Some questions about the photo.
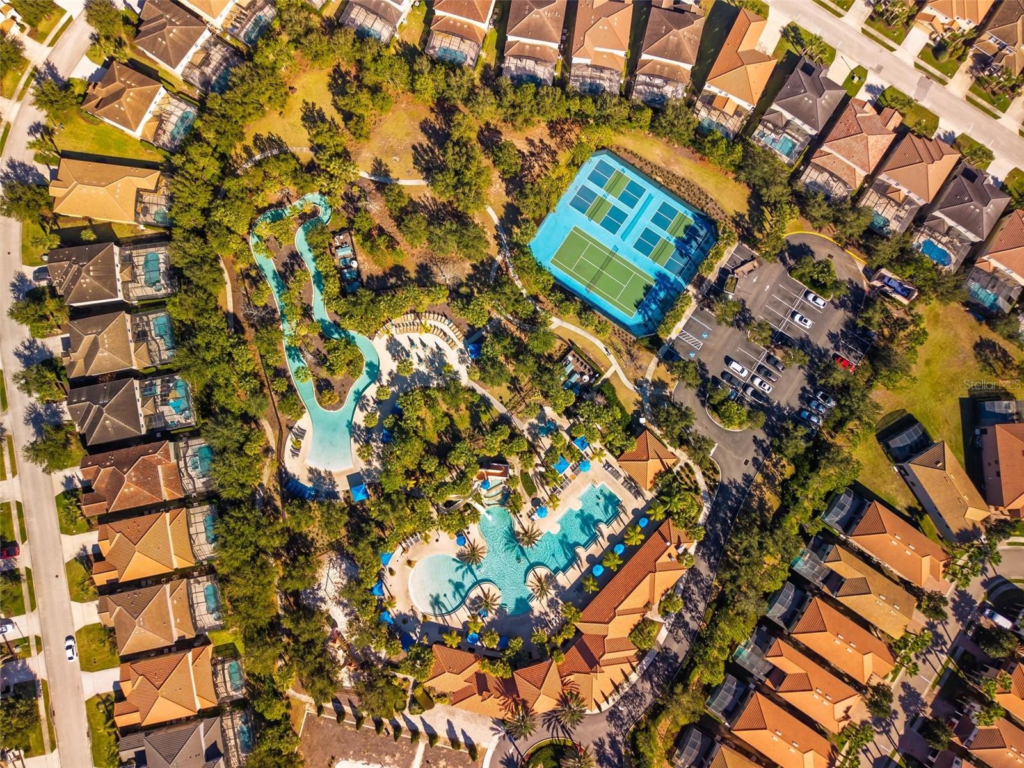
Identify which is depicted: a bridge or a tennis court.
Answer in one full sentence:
The one in the frame is a tennis court.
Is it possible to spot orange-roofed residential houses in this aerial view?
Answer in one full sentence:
Yes, an orange-roofed residential house can be made out from above.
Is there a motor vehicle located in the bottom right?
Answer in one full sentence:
Yes, I can see a motor vehicle in the bottom right.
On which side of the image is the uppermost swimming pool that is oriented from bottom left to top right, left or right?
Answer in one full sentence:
You can find the uppermost swimming pool that is oriented from bottom left to top right on the left side of the picture.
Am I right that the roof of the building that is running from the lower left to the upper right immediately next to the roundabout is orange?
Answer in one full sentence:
Yes, orange is the color of the roof of the building that is running from the lower left to the upper right immediately next to the roundabout.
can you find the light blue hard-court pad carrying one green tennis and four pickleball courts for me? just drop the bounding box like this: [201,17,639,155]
[530,154,716,335]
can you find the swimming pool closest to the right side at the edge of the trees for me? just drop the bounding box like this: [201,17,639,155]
[969,283,999,307]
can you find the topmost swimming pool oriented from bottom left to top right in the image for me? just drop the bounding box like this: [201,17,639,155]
[246,15,271,41]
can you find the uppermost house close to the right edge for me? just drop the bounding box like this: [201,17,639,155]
[911,0,988,47]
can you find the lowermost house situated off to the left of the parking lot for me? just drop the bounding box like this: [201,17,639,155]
[118,715,234,768]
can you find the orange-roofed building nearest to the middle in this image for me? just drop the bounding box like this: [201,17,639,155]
[617,430,679,492]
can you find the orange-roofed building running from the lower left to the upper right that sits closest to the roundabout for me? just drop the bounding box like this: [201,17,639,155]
[422,517,700,722]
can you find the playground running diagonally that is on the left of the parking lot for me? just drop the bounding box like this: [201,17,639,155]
[321,629,363,673]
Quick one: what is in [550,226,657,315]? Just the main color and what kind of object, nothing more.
green tennis court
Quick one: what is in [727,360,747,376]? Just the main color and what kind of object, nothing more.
white car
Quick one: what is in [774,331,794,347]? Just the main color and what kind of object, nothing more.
black car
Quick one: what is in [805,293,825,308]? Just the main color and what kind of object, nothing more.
white car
